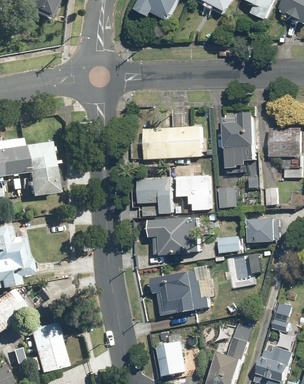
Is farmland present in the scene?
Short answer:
No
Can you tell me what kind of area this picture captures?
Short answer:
residential area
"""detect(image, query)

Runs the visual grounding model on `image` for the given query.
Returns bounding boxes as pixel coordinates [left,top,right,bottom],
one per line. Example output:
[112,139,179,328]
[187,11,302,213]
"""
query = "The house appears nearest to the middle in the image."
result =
[136,176,176,216]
